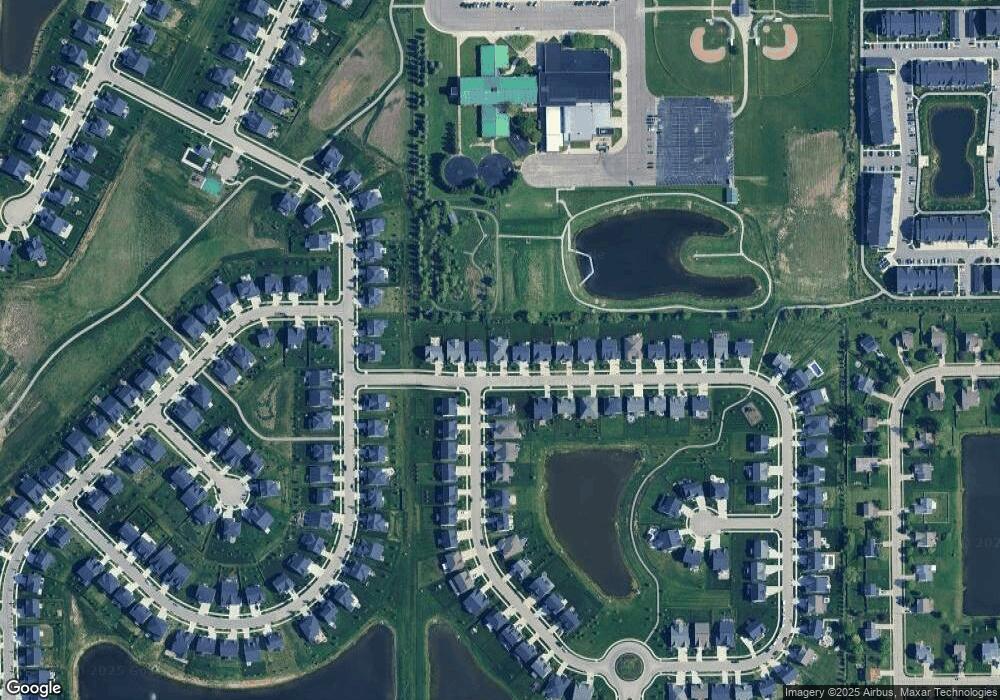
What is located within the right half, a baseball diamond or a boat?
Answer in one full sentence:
Looking within the right half, you will find a baseball diamond.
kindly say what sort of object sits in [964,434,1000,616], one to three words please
pond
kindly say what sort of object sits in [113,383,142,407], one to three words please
house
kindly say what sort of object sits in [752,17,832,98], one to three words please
baseball field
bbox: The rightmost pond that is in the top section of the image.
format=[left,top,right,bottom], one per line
[929,106,975,199]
